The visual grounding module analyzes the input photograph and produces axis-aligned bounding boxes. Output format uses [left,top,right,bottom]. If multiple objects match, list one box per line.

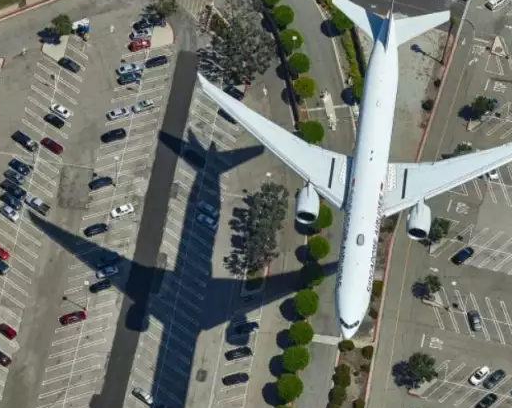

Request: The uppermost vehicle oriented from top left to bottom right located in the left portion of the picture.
[59,55,81,73]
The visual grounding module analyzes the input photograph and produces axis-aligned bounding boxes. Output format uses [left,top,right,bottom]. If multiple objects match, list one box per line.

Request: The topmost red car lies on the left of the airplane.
[128,38,152,52]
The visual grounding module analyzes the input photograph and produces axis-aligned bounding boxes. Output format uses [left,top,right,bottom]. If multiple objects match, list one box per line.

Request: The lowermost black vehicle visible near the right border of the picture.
[476,393,497,408]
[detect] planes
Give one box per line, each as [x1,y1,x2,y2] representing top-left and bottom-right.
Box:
[198,0,512,341]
